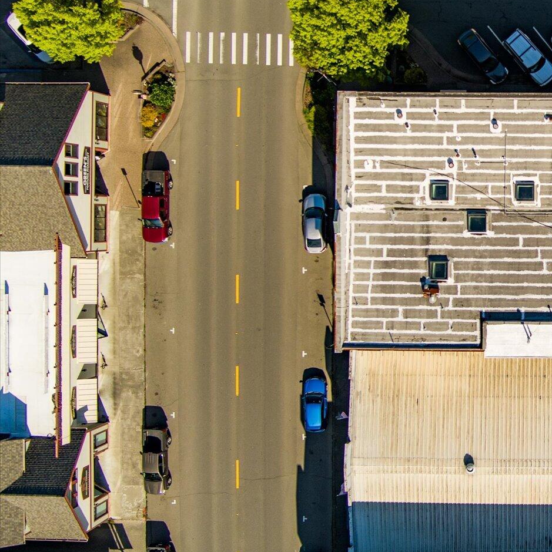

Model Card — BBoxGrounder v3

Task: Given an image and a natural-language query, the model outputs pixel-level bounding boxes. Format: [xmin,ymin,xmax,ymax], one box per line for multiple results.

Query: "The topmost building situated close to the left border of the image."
[0,83,110,254]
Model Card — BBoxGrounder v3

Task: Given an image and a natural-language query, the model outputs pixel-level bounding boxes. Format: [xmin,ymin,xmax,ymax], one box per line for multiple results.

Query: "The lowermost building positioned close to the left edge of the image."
[0,423,109,551]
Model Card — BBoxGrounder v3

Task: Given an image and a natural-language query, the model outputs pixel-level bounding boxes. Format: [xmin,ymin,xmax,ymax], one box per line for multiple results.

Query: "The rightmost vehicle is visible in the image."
[504,25,552,90]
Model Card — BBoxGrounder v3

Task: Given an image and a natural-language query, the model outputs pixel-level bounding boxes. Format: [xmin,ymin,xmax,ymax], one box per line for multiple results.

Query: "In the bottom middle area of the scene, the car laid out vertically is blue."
[300,375,328,434]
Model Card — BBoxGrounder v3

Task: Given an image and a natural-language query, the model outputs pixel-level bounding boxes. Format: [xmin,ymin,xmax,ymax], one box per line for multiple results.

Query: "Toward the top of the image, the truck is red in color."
[139,169,173,243]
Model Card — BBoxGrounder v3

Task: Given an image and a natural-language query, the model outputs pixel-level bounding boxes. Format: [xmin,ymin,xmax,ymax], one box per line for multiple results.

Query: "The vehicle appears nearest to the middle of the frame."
[300,193,328,254]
